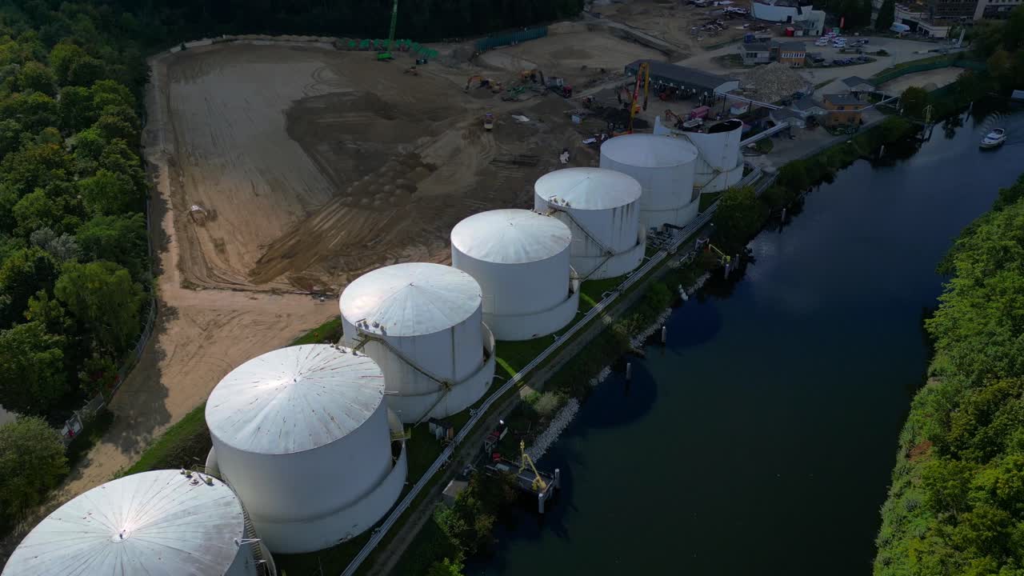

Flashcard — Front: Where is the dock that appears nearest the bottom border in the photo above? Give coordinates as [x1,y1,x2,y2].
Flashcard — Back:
[474,445,562,508]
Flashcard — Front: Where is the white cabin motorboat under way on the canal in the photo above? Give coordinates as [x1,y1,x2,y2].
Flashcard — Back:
[983,124,1011,148]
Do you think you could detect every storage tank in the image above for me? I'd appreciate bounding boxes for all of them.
[339,262,498,423]
[600,132,703,232]
[449,204,586,341]
[1,459,278,576]
[206,336,411,558]
[534,168,654,281]
[653,115,752,192]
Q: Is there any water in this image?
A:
Yes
